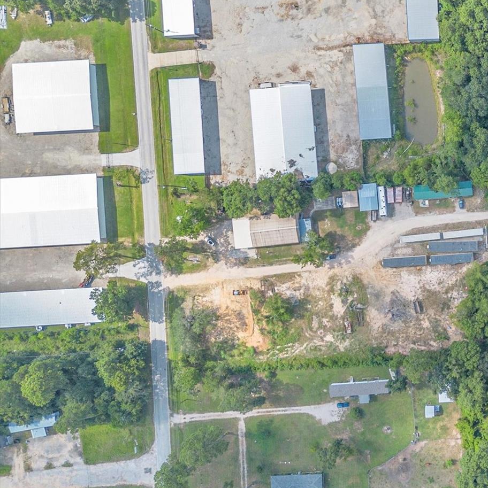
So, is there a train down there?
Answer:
No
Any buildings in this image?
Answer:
Yes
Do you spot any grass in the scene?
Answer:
Yes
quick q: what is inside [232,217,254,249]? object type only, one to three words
house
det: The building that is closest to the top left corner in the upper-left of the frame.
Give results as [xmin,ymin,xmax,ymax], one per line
[12,59,100,134]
